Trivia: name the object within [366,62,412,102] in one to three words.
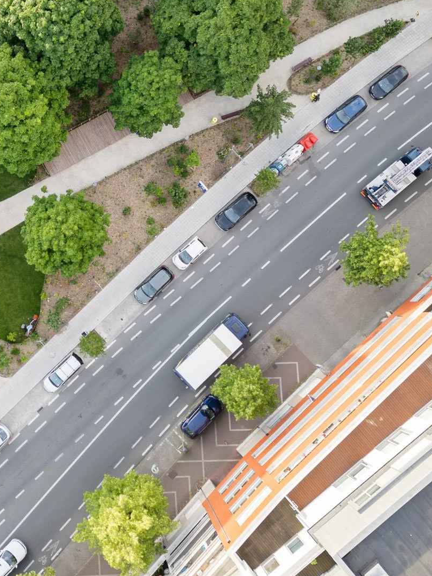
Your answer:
car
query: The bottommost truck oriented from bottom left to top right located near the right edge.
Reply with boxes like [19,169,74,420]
[355,134,432,217]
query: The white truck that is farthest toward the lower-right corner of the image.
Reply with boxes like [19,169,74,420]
[174,306,258,393]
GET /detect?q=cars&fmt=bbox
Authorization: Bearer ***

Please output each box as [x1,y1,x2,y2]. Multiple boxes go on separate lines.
[42,350,87,394]
[179,393,223,441]
[322,93,369,135]
[131,262,176,305]
[213,190,260,232]
[0,537,29,576]
[366,62,412,102]
[0,422,13,448]
[170,235,210,272]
